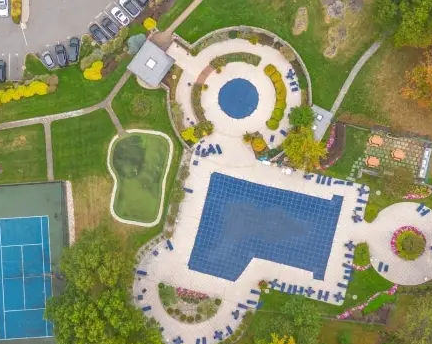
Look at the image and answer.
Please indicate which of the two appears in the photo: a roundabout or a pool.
pool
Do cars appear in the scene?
Yes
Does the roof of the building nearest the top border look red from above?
No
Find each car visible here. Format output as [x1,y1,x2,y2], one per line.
[0,0,9,19]
[100,15,120,37]
[0,59,8,84]
[54,44,69,70]
[109,5,131,27]
[88,22,109,46]
[69,38,81,64]
[119,0,143,20]
[134,0,153,11]
[41,50,55,70]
